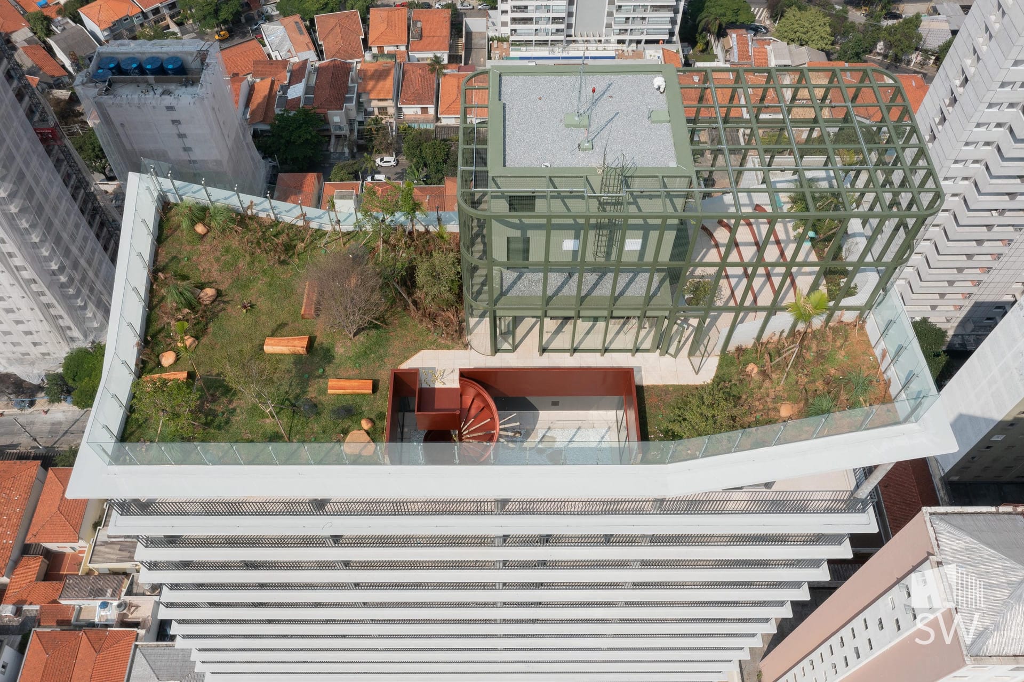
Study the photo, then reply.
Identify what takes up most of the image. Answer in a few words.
buildings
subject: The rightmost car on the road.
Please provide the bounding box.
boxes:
[749,20,770,33]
